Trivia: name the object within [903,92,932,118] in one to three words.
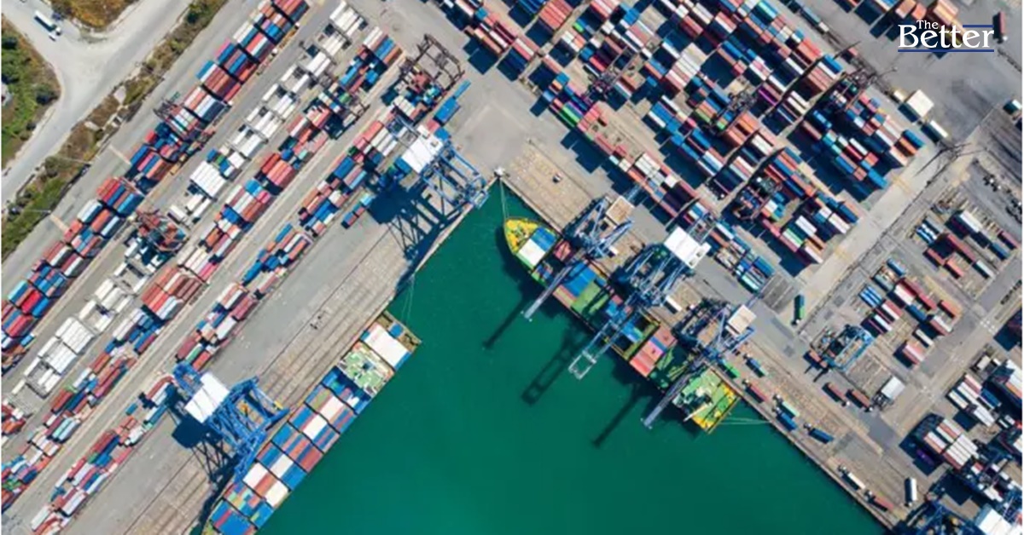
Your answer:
shed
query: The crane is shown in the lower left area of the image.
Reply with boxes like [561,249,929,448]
[176,372,292,498]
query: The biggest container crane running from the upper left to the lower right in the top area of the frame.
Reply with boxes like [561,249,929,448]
[387,134,485,225]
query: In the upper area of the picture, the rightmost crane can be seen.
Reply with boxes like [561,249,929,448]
[809,63,877,125]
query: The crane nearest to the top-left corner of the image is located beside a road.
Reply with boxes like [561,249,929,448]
[157,97,224,153]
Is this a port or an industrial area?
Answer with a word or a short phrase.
port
